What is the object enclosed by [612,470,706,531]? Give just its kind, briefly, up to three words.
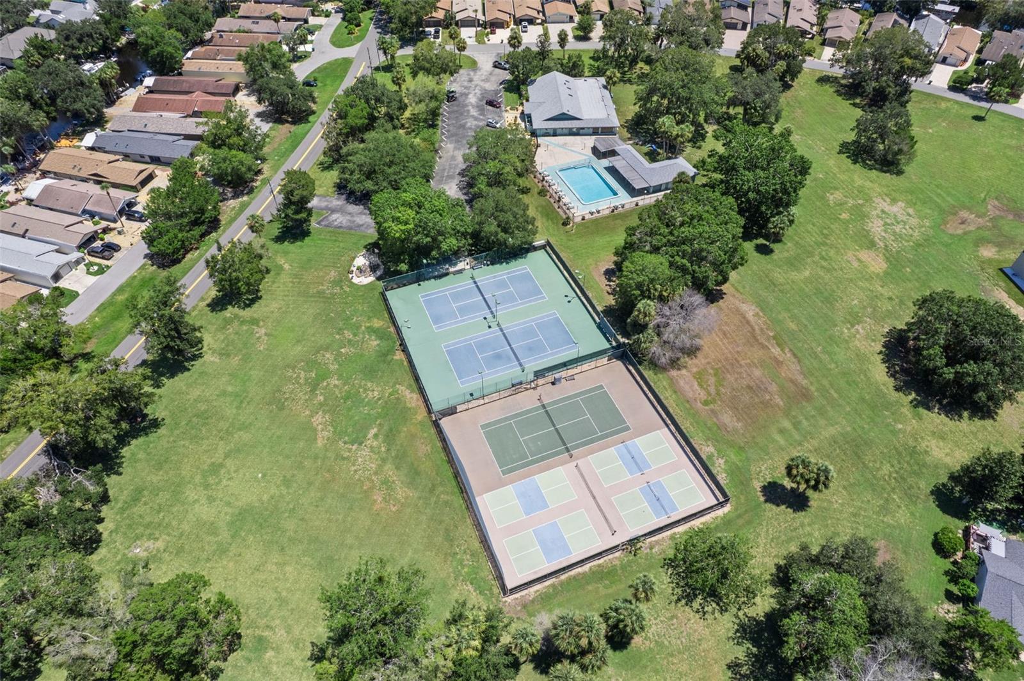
sports court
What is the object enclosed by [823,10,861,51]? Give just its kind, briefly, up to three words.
house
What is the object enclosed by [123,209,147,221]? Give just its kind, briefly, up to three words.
vehicle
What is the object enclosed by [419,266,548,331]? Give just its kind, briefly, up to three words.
tennis court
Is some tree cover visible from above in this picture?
Yes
